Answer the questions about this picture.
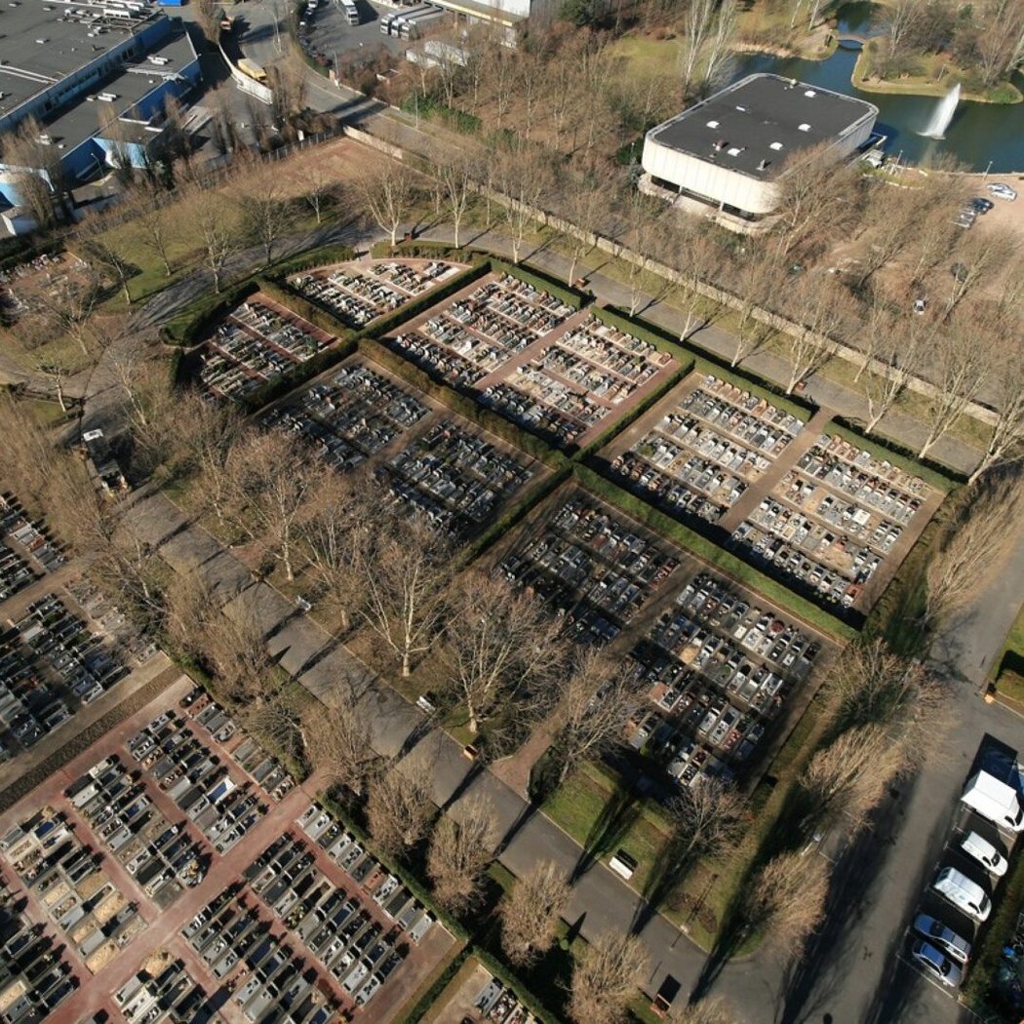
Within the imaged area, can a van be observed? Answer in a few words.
Yes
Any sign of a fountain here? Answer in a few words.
Yes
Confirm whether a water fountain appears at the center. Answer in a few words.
No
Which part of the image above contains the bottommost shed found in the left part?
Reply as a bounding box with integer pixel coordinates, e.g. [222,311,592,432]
[76,439,126,485]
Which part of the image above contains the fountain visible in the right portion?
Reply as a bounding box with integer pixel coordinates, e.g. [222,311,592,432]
[927,84,962,139]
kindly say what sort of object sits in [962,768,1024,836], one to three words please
truck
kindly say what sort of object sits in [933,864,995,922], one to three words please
van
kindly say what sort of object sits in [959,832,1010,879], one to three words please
van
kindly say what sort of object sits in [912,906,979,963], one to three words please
car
